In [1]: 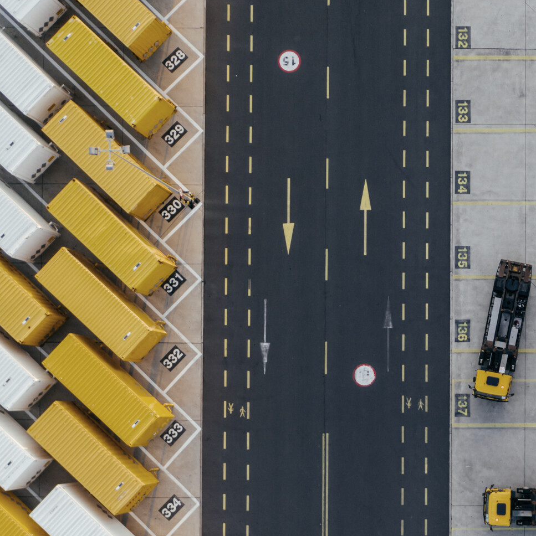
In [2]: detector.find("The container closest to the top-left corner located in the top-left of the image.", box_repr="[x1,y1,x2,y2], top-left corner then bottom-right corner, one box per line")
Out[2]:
[0,0,66,37]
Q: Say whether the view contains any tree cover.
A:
No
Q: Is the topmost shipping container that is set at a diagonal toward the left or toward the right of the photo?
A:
left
